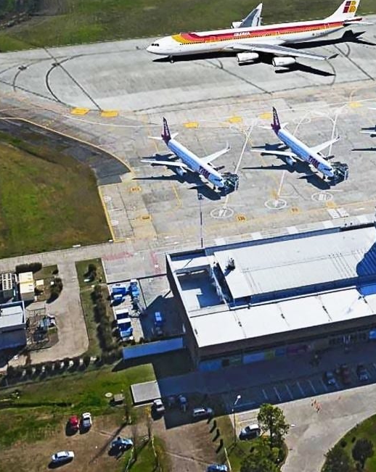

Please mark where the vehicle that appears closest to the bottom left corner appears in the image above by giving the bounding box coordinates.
[52,452,74,464]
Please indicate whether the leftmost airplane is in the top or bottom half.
top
